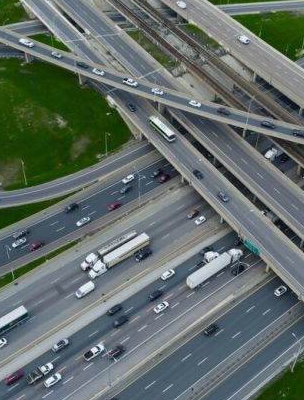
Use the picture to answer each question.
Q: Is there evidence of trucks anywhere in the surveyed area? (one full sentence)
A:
Yes, there is a truck in the image.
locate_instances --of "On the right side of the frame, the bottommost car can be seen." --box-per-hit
[202,324,218,338]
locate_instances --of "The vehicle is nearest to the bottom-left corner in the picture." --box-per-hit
[4,371,23,386]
